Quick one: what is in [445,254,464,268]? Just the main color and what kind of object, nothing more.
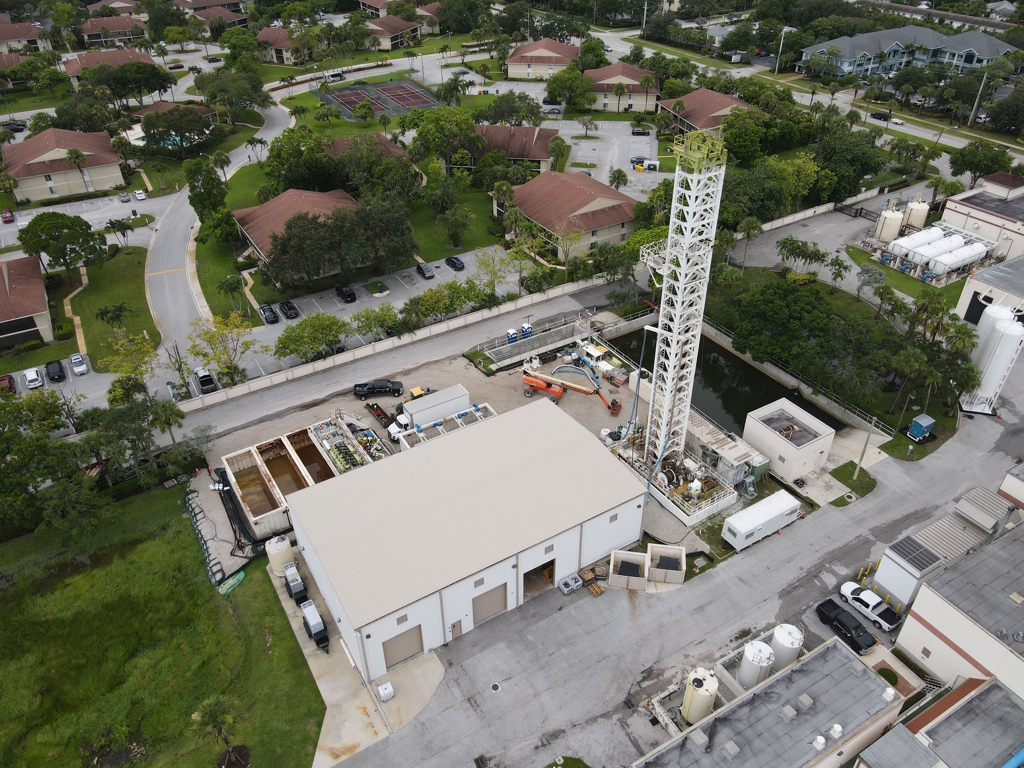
black car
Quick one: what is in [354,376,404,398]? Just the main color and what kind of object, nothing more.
black truck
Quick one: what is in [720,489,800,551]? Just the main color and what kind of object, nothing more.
white trailer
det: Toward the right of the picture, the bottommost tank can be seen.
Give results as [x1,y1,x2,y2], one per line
[675,677,719,726]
